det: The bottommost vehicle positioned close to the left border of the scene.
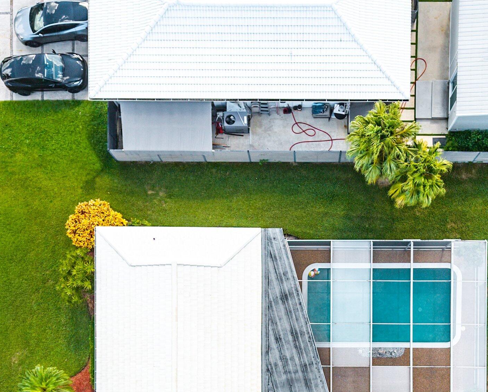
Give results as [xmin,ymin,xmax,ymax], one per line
[0,49,88,96]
